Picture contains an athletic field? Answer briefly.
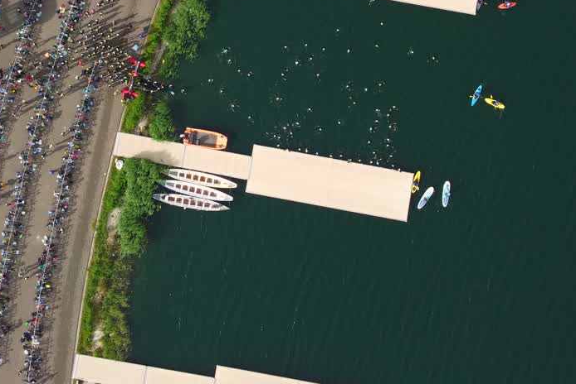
No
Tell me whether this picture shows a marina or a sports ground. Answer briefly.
marina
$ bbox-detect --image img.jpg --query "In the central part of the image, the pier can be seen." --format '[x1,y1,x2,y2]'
[111,131,414,221]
